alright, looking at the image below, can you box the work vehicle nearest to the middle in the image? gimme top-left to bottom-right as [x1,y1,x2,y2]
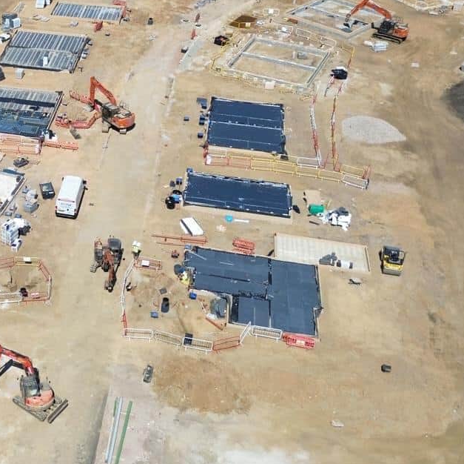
[93,243,125,292]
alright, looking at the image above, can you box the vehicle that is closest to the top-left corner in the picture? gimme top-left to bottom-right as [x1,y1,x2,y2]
[87,69,135,132]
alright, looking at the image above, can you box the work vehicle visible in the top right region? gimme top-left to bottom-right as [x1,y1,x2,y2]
[339,0,411,46]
